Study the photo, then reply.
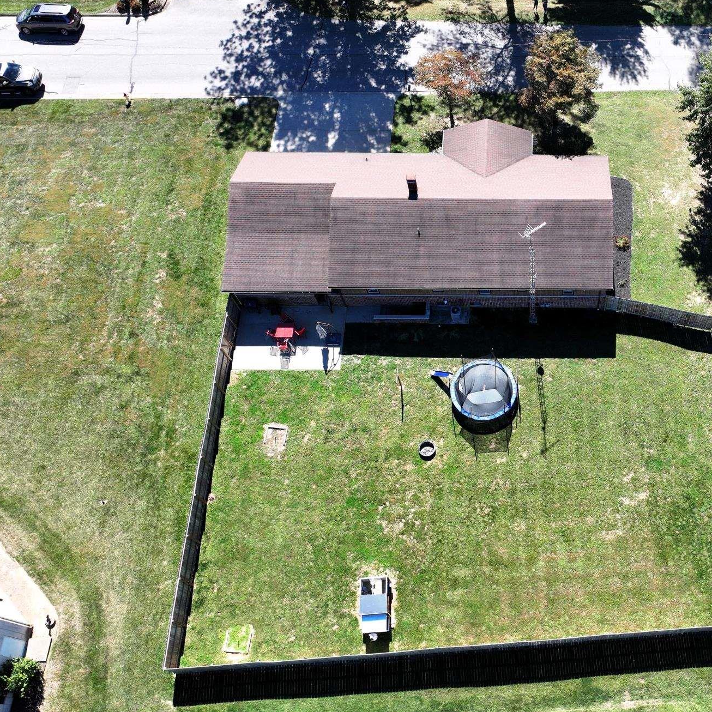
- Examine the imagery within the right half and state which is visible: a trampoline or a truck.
trampoline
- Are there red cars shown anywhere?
No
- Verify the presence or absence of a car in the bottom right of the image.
No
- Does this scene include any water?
No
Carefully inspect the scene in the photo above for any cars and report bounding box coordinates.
[0,63,50,97]
[11,7,88,43]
